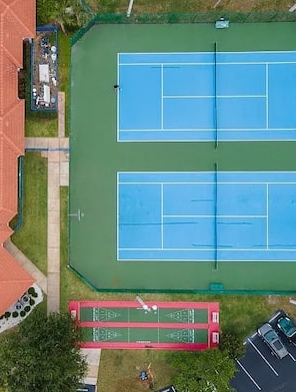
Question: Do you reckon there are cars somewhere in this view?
Yes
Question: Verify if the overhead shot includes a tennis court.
Yes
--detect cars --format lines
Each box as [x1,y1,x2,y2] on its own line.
[276,313,296,347]
[257,323,293,363]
